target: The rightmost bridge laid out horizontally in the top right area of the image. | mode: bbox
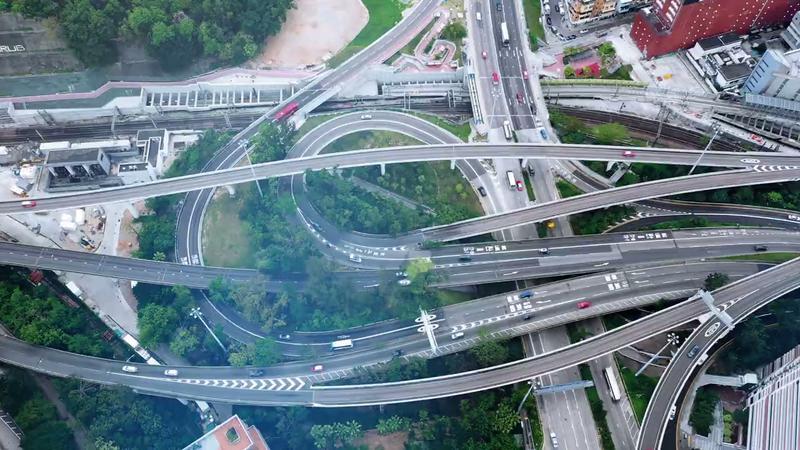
[545,84,800,130]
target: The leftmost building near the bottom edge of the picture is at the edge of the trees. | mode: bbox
[183,416,256,450]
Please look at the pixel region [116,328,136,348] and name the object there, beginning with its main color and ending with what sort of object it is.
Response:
white vehicle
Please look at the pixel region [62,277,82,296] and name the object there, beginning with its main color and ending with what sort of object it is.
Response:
white vehicle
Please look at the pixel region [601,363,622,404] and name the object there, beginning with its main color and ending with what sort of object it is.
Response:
white bus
